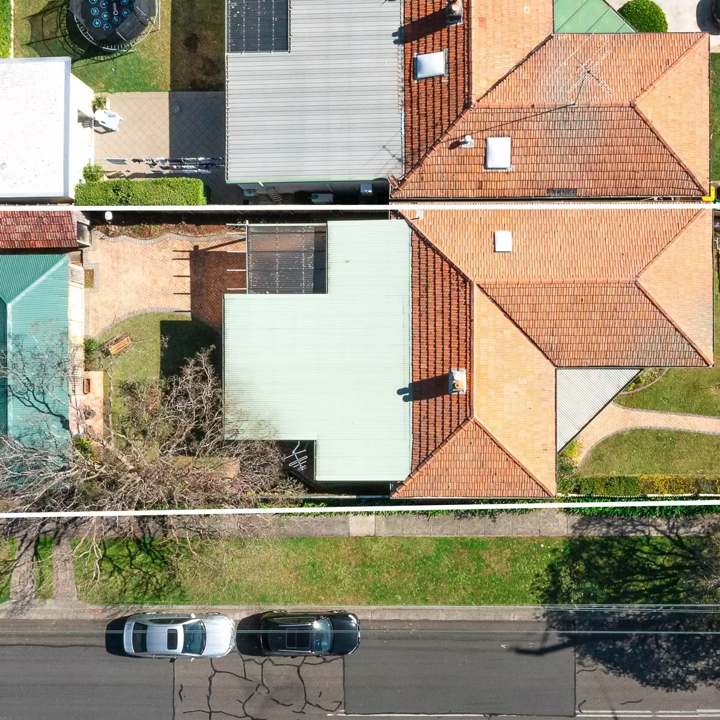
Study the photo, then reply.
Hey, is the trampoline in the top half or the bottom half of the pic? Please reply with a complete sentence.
The trampoline sits in the top half of the picture.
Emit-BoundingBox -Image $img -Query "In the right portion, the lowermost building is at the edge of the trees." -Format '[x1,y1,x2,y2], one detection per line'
[222,199,717,500]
